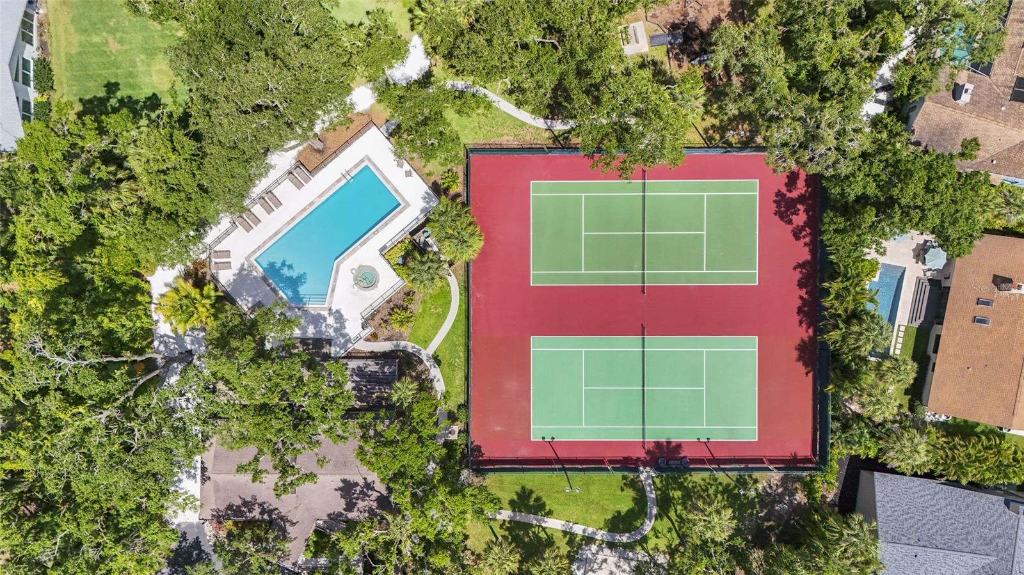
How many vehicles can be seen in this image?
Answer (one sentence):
The count of vehicles is 0.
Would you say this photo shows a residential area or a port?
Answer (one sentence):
The area seen from above is a residential area.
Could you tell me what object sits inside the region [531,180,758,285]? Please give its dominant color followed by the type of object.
green tennis court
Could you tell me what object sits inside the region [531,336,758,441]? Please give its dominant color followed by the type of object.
green tennis court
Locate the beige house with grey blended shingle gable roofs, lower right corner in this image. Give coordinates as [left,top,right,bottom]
[861,467,1024,575]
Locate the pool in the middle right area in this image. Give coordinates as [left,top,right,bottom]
[869,263,905,356]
